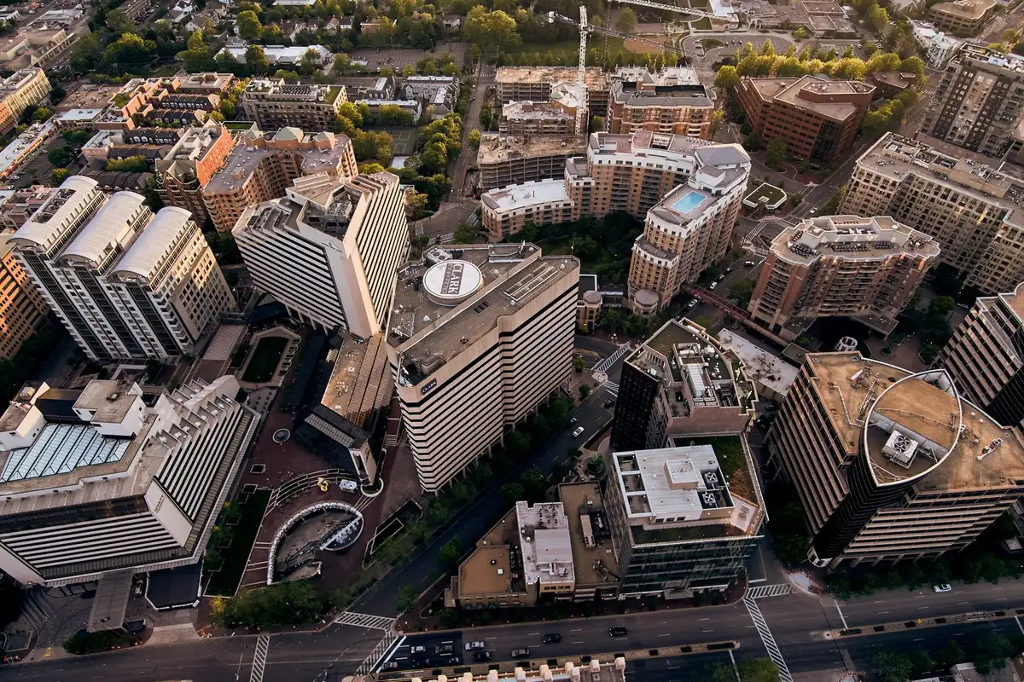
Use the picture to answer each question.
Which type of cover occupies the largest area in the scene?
buildings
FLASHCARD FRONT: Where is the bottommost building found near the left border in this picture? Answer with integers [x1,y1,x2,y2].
[0,378,261,633]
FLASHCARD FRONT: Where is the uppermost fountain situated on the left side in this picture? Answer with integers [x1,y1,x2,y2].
[270,426,293,445]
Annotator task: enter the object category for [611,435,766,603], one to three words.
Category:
building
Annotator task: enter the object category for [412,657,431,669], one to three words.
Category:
vehicle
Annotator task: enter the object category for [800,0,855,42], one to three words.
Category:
building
